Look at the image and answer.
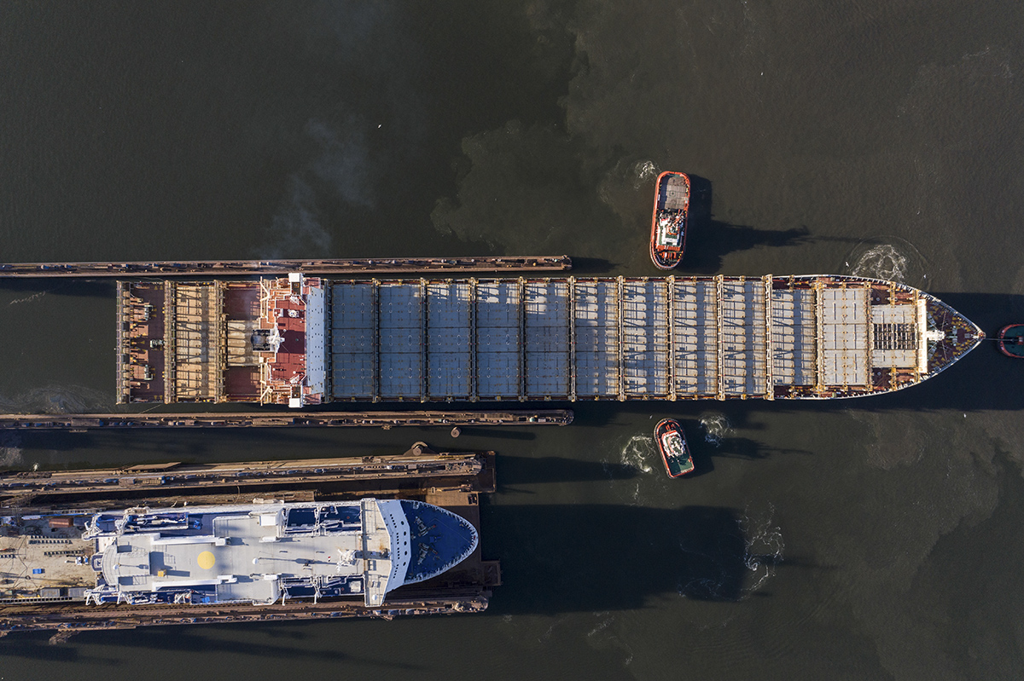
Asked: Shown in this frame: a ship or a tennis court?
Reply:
ship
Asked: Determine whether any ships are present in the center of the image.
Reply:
Yes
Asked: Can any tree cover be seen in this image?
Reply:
No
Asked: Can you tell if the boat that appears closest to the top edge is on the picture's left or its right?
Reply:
right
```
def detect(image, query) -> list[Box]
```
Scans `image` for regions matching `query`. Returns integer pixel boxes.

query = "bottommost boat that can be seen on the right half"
[654,416,701,483]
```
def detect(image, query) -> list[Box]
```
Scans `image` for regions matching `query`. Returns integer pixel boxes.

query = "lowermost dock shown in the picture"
[0,436,503,639]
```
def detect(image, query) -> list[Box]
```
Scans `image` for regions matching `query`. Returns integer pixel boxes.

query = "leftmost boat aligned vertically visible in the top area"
[648,171,693,270]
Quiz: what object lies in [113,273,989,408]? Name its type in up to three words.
ship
